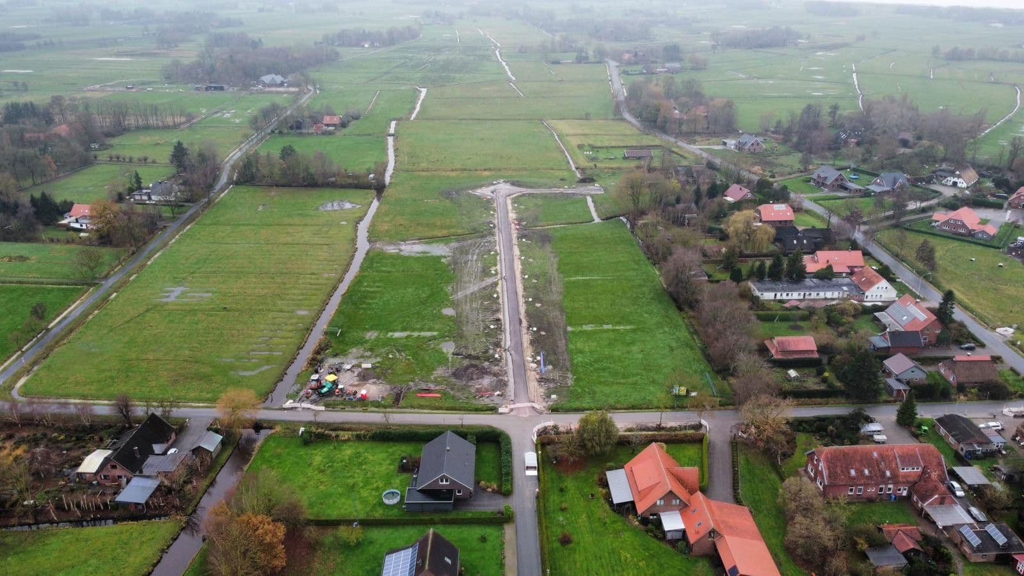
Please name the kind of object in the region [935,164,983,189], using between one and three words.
house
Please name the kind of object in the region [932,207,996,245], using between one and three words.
house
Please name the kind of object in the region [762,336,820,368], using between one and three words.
barn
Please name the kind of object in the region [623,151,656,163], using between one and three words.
barn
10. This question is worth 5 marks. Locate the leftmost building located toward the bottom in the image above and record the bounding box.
[77,413,187,514]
